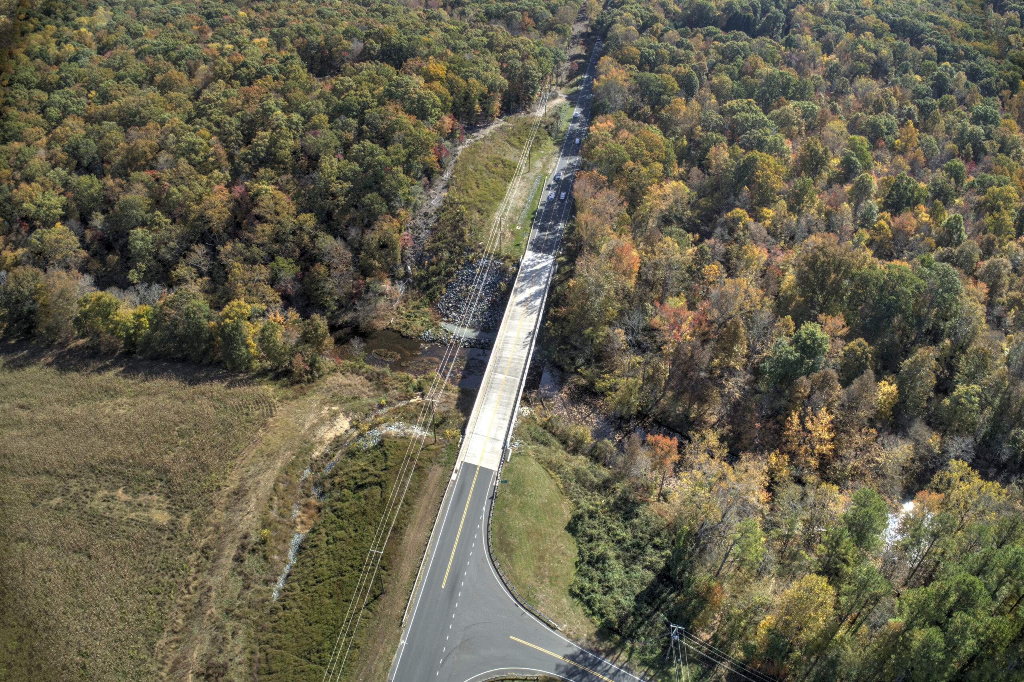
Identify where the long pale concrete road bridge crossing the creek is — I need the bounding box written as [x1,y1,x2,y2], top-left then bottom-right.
[449,246,560,487]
